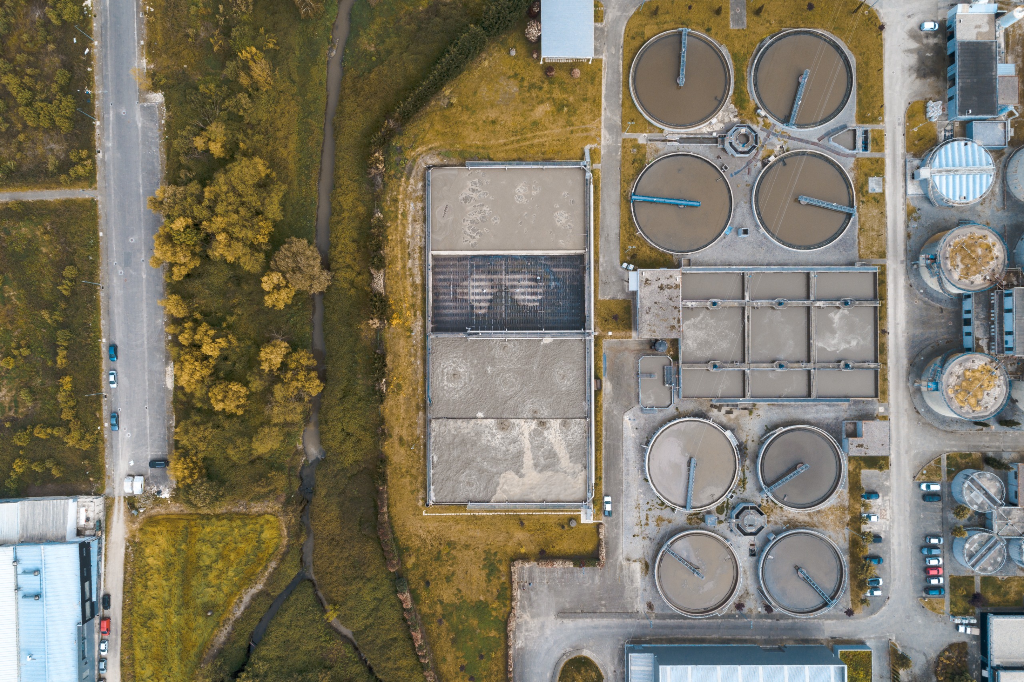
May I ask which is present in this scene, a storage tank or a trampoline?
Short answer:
storage tank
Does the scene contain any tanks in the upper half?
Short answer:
Yes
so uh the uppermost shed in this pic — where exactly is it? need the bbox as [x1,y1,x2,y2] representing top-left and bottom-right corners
[541,0,594,60]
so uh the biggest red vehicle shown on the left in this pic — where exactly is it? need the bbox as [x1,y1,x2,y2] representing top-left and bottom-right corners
[100,617,112,637]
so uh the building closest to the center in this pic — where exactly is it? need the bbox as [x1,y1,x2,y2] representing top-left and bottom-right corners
[629,268,681,338]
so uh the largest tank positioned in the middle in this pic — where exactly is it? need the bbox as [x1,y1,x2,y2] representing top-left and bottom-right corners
[426,160,594,510]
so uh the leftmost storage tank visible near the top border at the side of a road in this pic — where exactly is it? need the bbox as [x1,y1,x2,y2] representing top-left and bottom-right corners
[628,28,732,133]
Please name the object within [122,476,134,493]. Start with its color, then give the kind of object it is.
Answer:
white vehicle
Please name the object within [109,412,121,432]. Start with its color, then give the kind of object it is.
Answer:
blue vehicle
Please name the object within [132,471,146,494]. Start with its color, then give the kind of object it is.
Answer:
white camper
